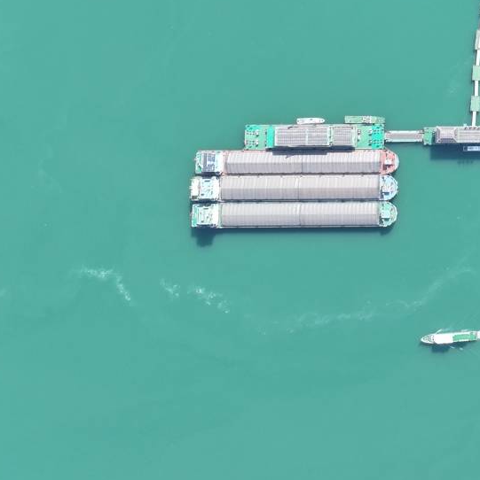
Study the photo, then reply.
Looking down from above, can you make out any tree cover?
No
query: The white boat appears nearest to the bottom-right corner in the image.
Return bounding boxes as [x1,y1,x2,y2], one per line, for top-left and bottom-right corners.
[421,330,479,346]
